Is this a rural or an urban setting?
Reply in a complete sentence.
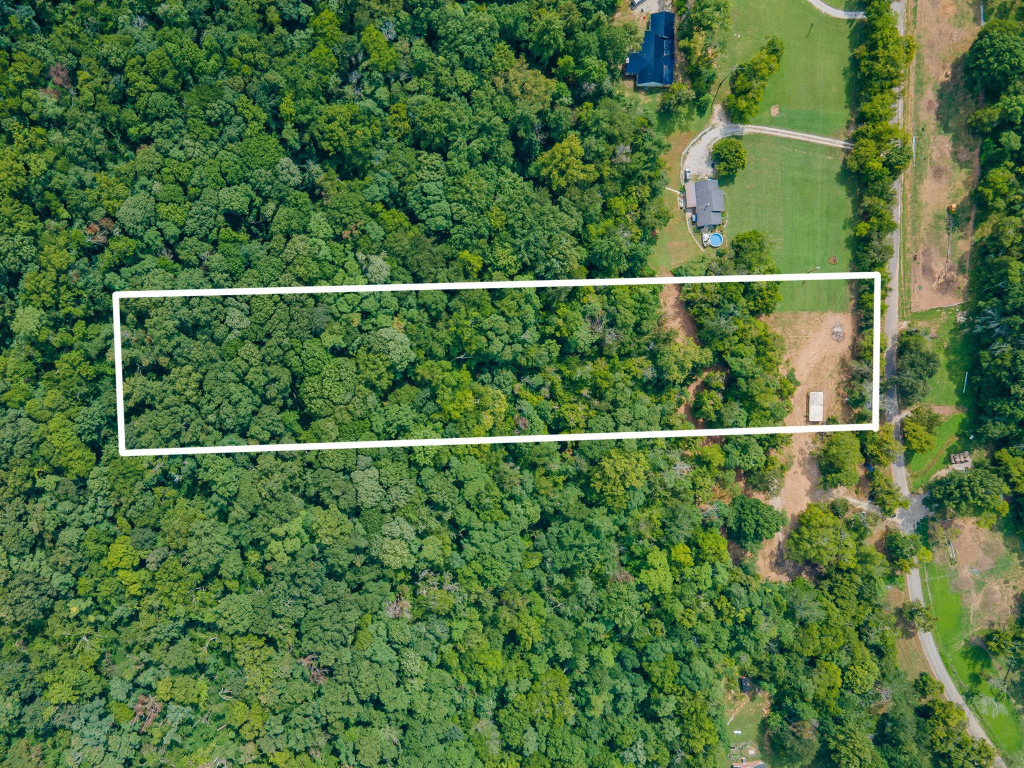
The area is rural.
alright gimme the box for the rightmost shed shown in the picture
[807,392,823,422]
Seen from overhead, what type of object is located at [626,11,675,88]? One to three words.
house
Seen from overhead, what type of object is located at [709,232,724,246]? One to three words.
swimming pool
